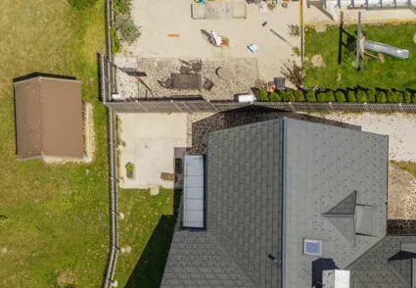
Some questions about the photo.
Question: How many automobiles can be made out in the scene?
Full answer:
No automobiles are visible.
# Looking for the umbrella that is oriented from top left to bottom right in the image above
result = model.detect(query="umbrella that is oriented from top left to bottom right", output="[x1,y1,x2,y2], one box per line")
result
[120,68,152,96]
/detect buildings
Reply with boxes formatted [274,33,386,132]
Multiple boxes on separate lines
[11,76,98,170]
[161,119,416,288]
